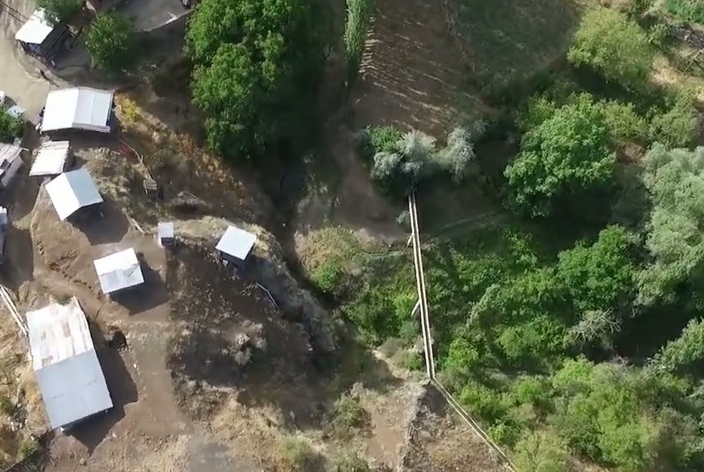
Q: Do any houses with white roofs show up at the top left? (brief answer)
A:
Yes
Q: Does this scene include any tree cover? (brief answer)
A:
Yes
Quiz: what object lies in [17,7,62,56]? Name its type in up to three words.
shed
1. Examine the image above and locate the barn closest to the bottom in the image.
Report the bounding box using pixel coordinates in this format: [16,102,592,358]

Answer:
[27,297,114,429]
